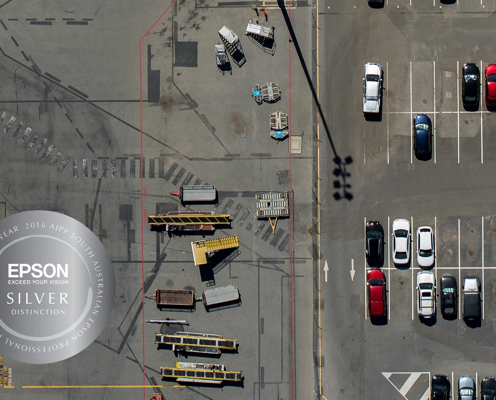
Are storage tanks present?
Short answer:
No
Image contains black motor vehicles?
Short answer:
Yes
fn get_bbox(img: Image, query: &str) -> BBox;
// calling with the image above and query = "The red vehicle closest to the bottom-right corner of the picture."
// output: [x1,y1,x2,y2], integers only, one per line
[365,268,386,316]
